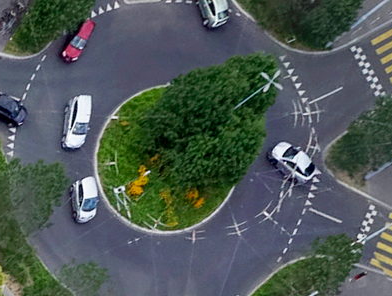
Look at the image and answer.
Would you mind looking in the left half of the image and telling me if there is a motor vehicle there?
Yes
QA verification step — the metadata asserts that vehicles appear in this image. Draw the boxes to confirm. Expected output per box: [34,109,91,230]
[59,17,98,66]
[0,87,29,126]
[270,144,319,184]
[71,176,100,220]
[62,96,92,147]
[196,0,232,28]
